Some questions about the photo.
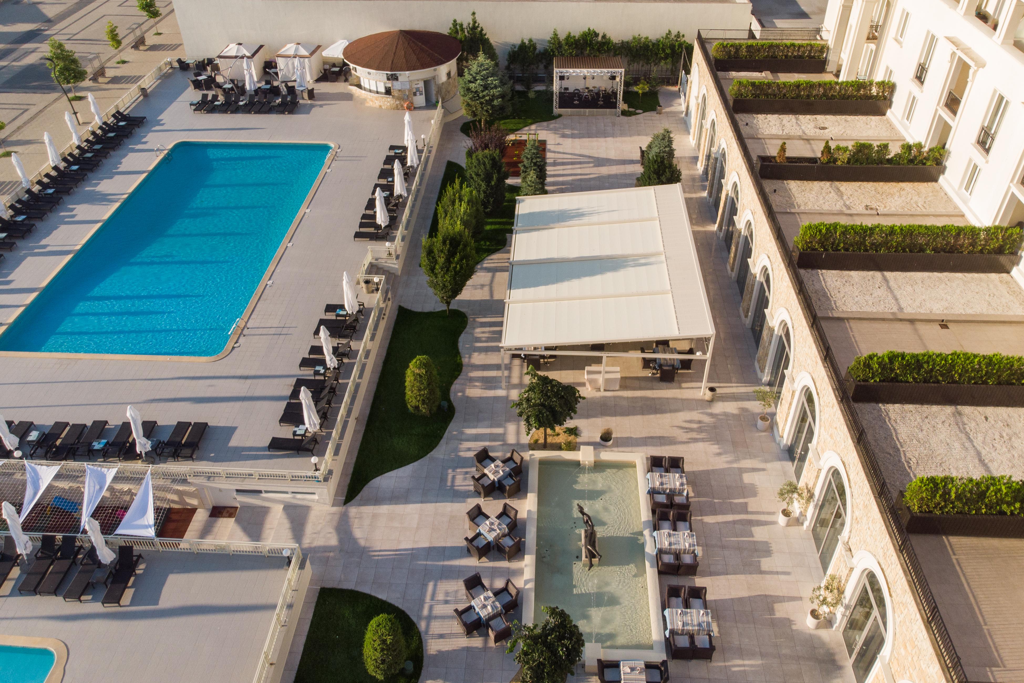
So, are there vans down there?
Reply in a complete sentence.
No, I can't see a single van in this photo.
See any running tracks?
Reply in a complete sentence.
No, the picture doesn't show any running track.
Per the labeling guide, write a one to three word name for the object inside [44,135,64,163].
umbrella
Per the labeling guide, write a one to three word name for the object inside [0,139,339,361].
swimming pool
